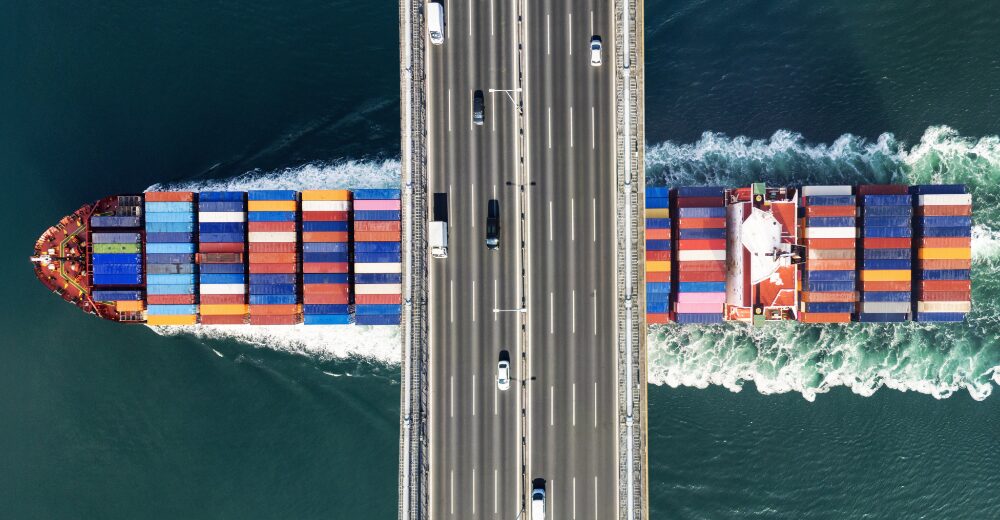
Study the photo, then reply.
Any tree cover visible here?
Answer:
No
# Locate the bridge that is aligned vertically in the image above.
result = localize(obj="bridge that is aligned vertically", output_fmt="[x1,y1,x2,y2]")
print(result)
[396,0,646,520]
